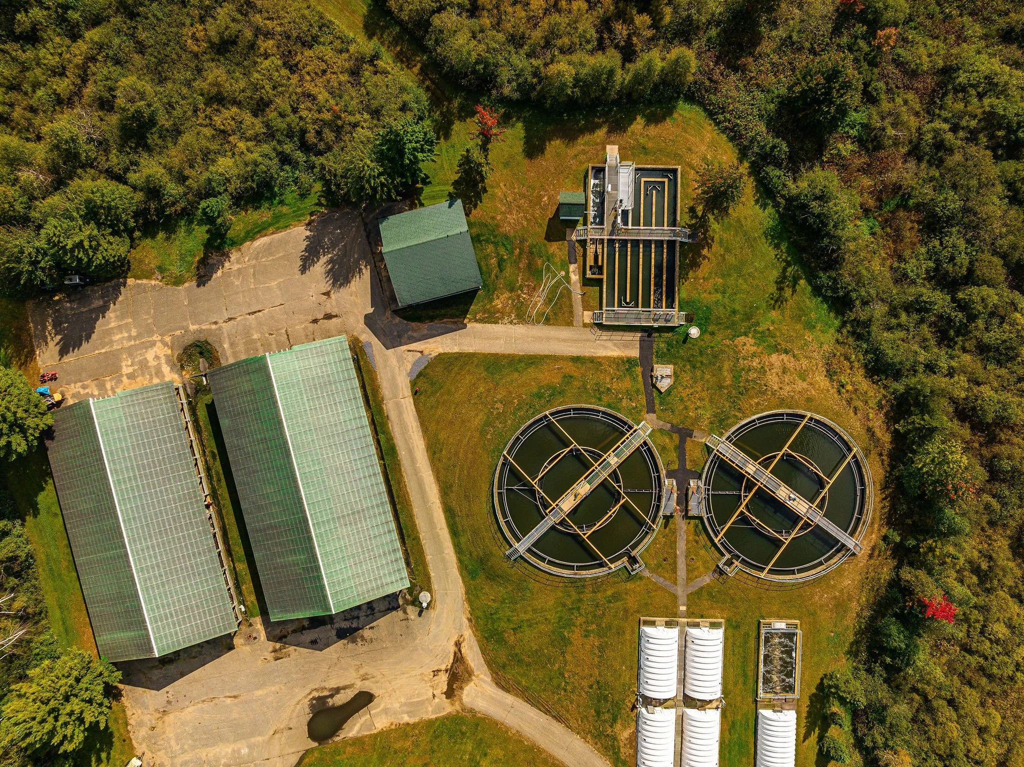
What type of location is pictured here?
industrial area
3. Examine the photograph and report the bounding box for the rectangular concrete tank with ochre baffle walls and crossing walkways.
[574,145,697,330]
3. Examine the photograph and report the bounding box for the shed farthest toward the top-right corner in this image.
[559,192,586,222]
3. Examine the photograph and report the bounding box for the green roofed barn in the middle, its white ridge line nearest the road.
[207,335,410,622]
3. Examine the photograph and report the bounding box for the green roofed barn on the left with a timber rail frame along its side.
[42,381,248,666]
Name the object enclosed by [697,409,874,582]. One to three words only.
storage tank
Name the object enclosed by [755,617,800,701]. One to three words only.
storage tank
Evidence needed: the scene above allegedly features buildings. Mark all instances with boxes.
[378,199,482,307]
[207,335,410,622]
[42,381,248,666]
[559,192,586,222]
